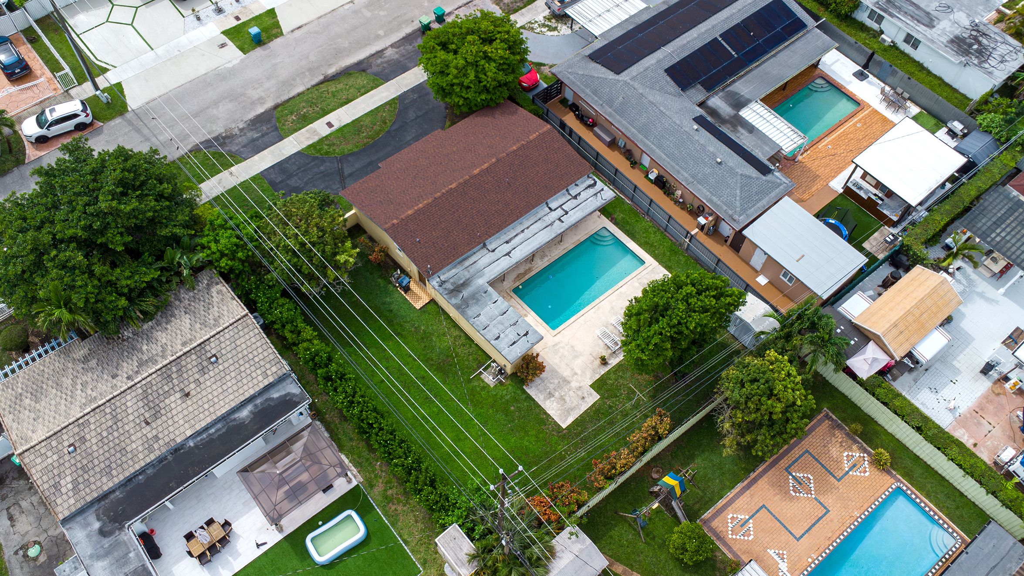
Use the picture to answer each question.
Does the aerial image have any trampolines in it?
Yes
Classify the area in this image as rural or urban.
urban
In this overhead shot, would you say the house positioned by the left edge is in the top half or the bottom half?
bottom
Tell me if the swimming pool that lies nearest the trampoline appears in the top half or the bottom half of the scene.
top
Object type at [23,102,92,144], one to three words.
car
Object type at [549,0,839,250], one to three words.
house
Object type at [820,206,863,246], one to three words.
trampoline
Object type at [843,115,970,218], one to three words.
building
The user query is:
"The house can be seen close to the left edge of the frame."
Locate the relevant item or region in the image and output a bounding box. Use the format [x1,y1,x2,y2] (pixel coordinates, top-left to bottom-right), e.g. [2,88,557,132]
[0,264,314,576]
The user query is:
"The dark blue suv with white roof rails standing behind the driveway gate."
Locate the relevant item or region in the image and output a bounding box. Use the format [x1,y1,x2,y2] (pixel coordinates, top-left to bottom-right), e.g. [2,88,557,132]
[0,35,29,78]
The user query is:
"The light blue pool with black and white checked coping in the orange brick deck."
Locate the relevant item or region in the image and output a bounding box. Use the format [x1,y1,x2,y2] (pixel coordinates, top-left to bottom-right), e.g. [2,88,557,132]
[798,480,966,576]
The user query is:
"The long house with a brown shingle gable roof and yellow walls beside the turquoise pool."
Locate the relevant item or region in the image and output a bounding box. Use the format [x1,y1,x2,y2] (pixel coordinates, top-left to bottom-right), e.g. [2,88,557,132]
[336,96,617,378]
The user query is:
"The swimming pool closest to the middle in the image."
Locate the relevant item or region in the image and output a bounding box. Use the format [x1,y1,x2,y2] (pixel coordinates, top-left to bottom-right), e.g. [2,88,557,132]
[507,221,651,335]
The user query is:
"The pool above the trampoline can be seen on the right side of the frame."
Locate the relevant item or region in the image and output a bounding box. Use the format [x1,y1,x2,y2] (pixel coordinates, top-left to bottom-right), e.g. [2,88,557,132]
[751,72,865,160]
